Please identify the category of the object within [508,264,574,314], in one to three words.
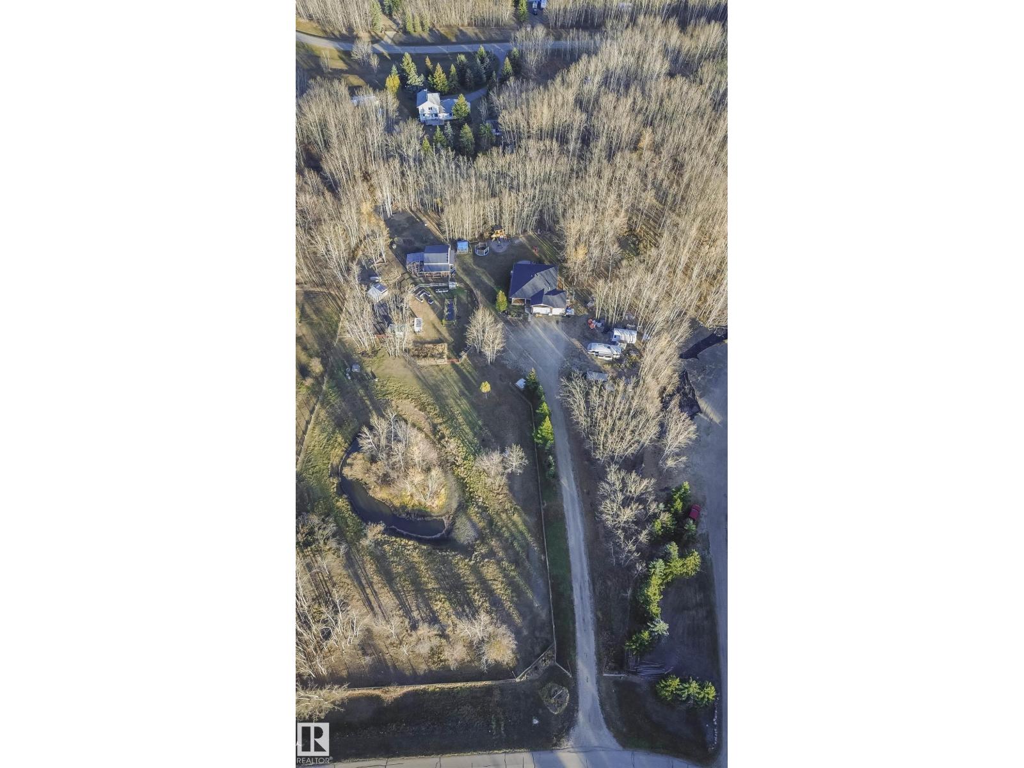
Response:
house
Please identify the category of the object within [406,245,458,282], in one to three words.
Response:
barn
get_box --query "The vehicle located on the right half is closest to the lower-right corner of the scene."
[689,500,702,525]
